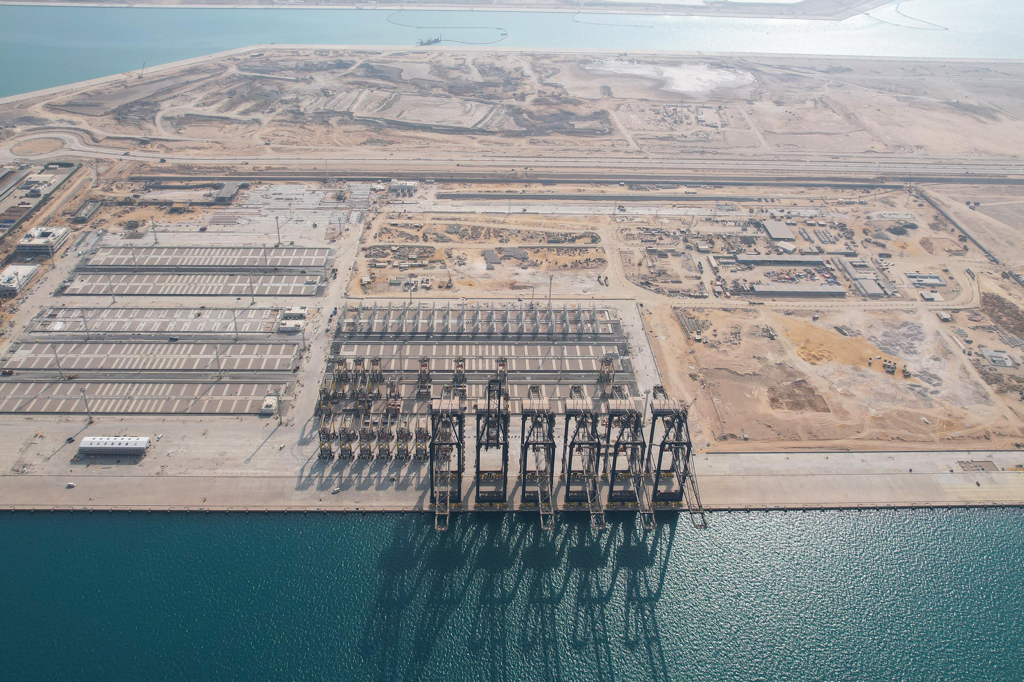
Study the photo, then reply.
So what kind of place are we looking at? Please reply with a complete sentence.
What you see here is a port.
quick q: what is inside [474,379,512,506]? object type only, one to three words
container crane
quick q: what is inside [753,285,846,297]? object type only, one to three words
shed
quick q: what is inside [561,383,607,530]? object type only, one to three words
container crane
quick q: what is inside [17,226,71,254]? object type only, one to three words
building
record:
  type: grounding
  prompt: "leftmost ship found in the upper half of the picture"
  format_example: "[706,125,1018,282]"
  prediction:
[415,23,444,46]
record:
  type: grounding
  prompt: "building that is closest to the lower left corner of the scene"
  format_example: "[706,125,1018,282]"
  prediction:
[80,438,152,456]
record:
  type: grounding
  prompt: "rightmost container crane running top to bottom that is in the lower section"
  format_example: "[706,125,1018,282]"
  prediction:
[644,383,707,529]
